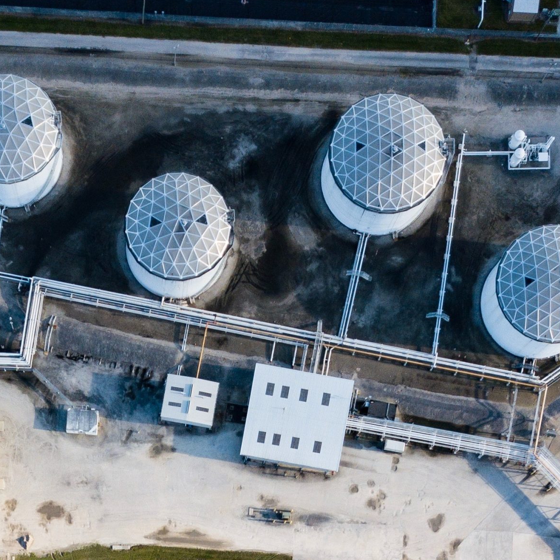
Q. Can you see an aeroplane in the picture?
No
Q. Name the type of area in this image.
industrial area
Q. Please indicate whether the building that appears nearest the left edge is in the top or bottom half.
bottom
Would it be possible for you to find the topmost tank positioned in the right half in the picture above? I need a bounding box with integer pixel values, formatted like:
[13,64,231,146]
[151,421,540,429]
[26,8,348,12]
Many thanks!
[320,93,459,235]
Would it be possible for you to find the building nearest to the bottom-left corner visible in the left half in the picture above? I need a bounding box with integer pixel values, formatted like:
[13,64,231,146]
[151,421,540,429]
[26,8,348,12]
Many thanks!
[67,404,101,438]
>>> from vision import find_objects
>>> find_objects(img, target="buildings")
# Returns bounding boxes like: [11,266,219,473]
[160,374,220,431]
[505,0,537,25]
[239,363,353,480]
[67,404,101,438]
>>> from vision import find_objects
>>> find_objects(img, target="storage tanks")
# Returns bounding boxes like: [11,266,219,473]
[0,73,70,208]
[125,173,244,299]
[479,226,560,358]
[320,93,459,235]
